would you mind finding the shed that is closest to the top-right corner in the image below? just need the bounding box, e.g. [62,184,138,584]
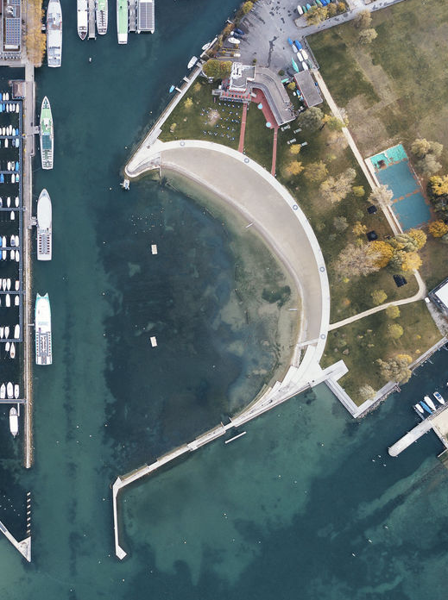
[293,71,323,107]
